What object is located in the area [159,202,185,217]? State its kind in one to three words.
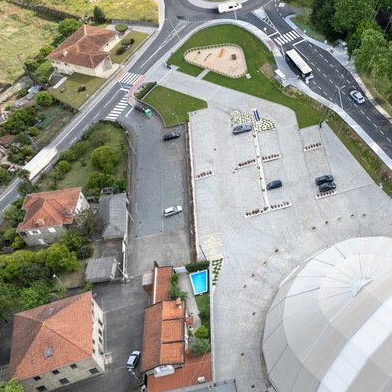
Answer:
car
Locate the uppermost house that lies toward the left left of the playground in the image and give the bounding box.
[46,25,118,76]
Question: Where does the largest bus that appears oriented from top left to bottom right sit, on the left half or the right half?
right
